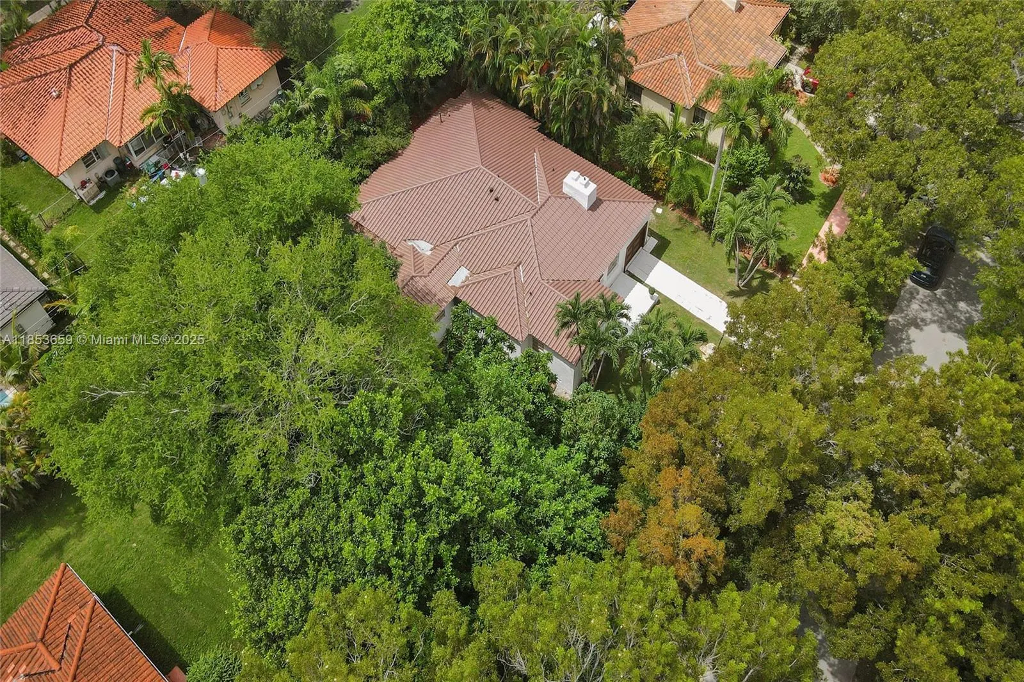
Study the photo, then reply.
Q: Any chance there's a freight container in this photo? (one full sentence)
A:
No, this view has no freight container in it.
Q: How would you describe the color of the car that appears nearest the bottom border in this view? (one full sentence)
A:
The color of the car that appears nearest the bottom border is black.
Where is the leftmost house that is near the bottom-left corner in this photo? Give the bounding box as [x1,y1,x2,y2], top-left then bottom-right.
[0,561,169,682]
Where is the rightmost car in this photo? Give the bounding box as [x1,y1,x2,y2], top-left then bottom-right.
[908,220,962,296]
